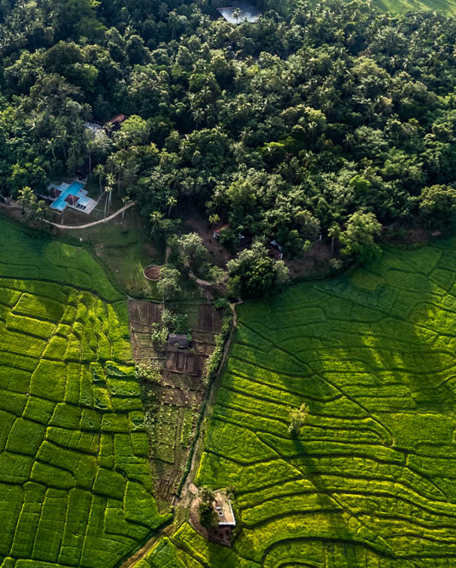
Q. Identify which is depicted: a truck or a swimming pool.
swimming pool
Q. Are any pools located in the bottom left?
No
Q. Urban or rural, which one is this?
rural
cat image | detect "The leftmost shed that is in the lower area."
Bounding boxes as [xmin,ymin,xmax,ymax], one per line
[168,334,190,350]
